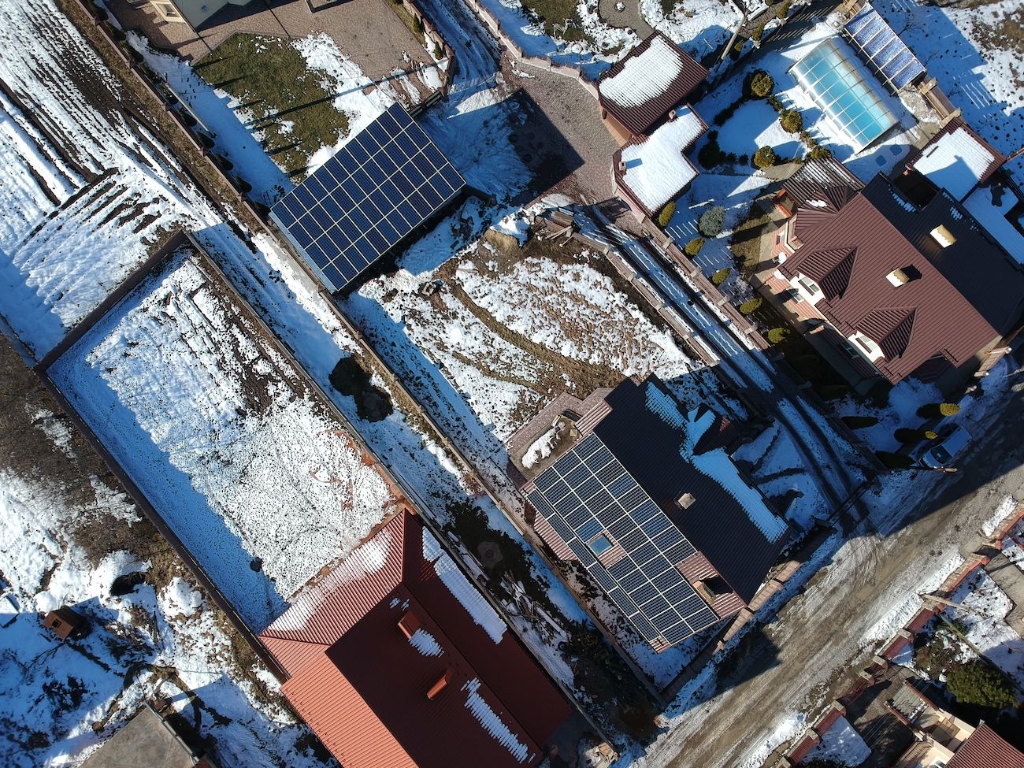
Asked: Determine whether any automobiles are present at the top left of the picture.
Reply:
No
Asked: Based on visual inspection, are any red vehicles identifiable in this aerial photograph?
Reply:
No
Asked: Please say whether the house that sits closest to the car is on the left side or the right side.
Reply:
right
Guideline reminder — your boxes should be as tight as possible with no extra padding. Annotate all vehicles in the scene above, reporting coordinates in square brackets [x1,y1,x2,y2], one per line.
[915,420,983,475]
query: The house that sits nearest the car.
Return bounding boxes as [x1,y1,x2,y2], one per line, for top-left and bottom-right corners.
[768,149,1024,391]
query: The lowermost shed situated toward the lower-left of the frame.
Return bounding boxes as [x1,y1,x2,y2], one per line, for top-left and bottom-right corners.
[76,696,227,768]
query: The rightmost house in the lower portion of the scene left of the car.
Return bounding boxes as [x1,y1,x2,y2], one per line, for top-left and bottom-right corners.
[510,374,789,654]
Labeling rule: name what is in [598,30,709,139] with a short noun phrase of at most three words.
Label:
building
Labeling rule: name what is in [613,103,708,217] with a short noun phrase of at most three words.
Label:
shed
